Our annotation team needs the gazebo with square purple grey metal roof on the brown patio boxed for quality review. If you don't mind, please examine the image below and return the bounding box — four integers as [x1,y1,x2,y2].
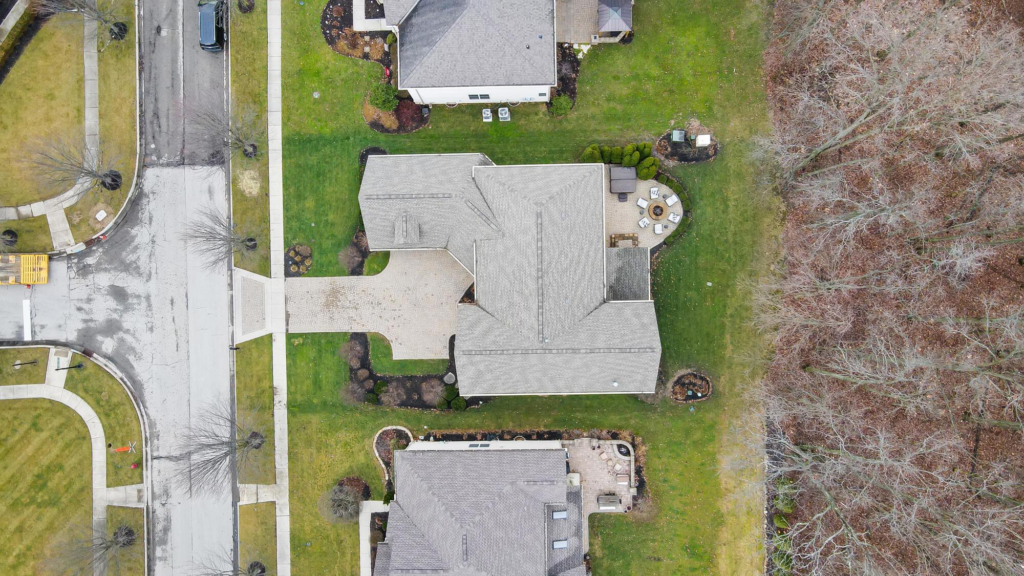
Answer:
[595,0,632,42]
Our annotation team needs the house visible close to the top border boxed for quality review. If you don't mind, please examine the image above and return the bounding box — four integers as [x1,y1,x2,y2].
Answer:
[384,0,558,110]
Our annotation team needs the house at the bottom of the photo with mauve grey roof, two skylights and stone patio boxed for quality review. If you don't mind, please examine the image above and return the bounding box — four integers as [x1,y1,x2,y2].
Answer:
[373,436,586,576]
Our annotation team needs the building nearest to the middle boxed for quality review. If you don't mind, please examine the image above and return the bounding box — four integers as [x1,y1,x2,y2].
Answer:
[358,152,662,397]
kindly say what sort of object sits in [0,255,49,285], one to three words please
trailer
